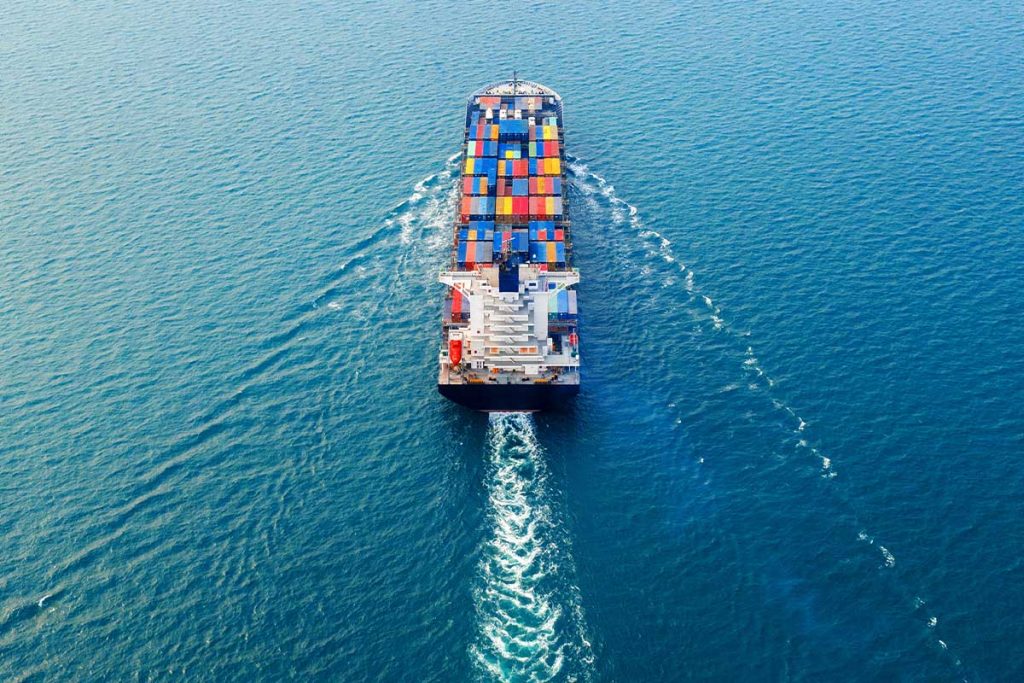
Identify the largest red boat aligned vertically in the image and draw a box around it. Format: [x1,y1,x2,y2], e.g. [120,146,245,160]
[450,337,462,367]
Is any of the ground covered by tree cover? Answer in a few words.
No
